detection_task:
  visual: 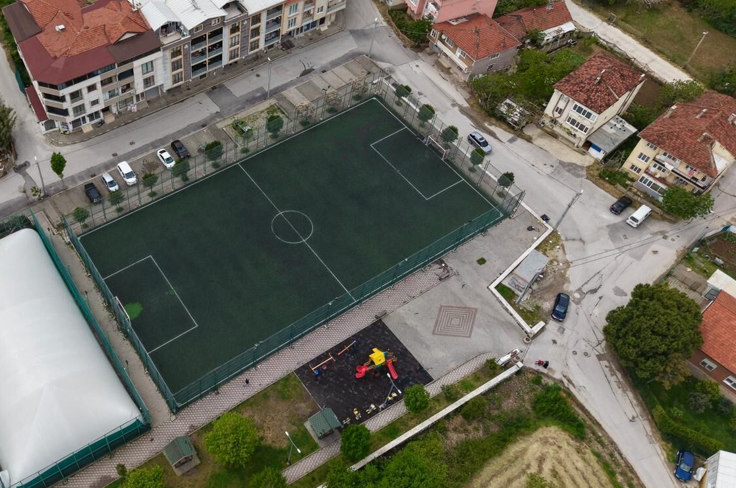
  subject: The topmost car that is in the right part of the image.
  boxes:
[465,130,492,152]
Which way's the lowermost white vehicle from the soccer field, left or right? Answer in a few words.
to the right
